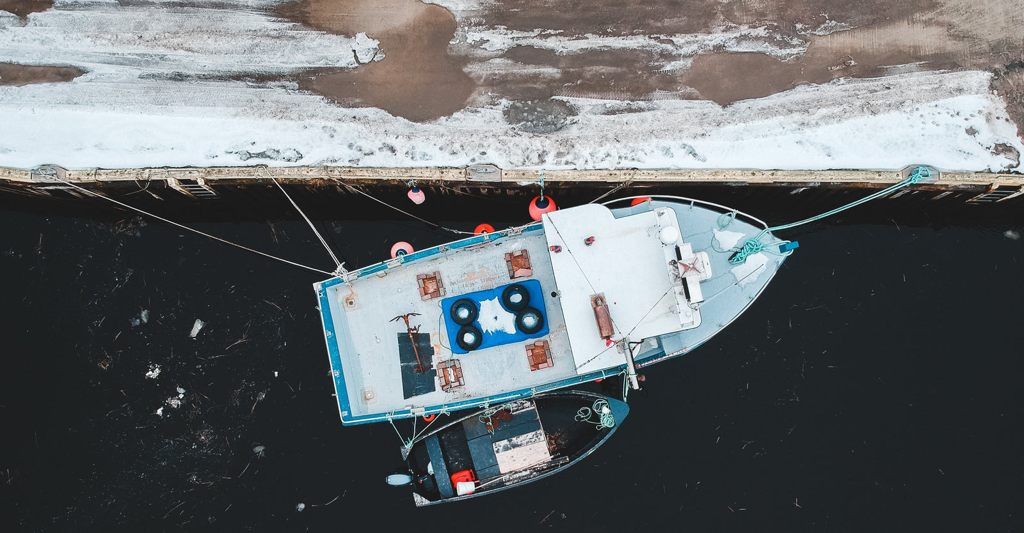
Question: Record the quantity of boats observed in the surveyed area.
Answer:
two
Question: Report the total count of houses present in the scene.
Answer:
0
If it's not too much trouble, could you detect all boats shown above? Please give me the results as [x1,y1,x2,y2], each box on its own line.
[388,390,630,507]
[311,194,799,424]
